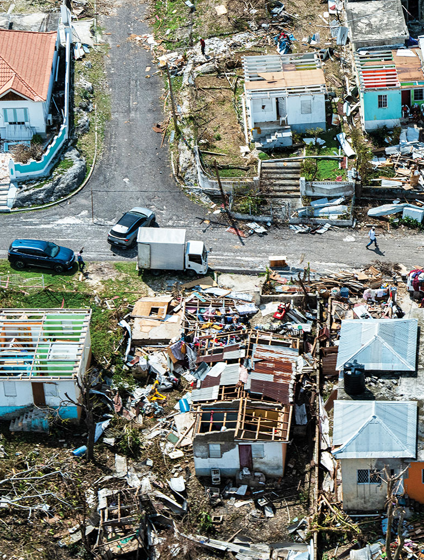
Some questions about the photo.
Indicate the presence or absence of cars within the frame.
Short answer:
Yes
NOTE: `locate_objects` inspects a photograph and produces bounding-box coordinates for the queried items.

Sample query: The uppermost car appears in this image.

[108,202,167,246]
